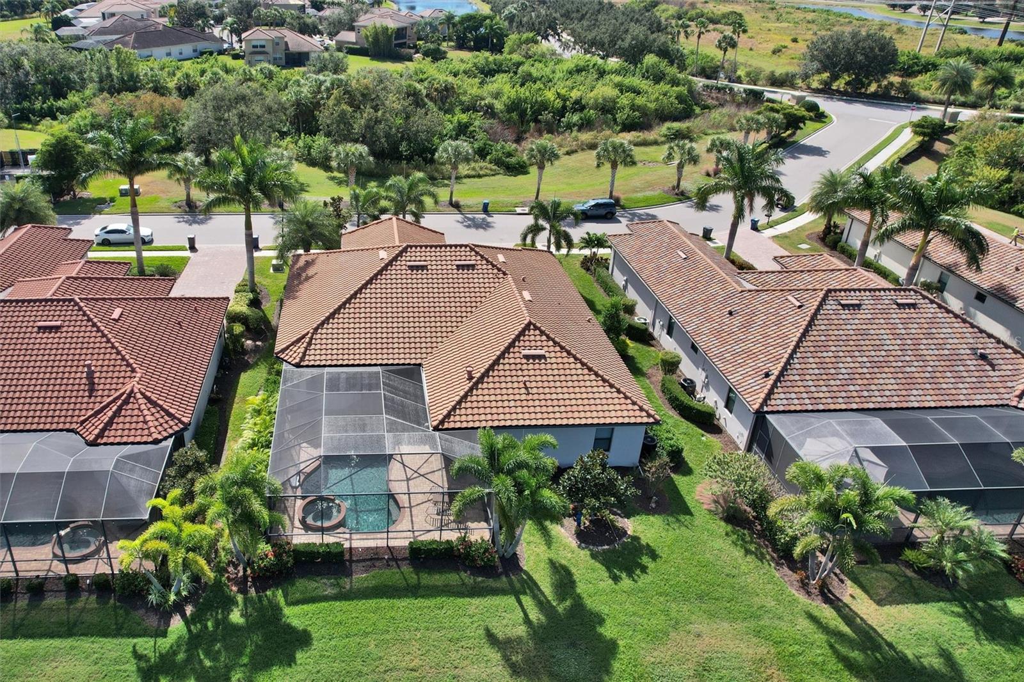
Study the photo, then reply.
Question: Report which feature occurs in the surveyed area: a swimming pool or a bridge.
swimming pool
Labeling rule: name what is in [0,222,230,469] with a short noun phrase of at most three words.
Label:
house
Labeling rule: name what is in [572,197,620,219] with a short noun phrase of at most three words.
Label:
car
